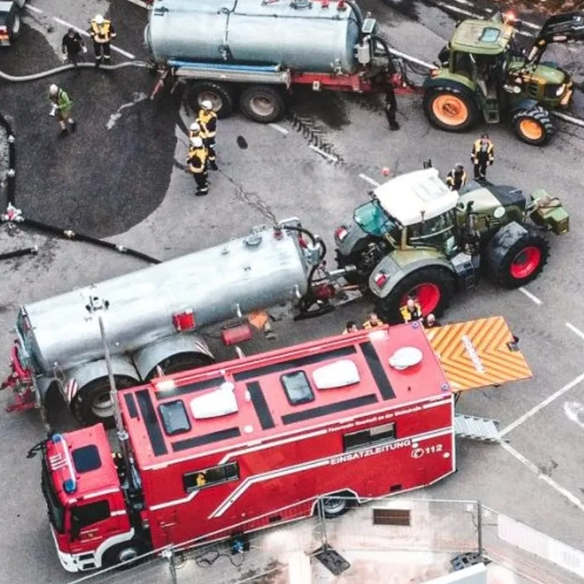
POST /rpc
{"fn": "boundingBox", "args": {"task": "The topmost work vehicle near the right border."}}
[416,7,584,146]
